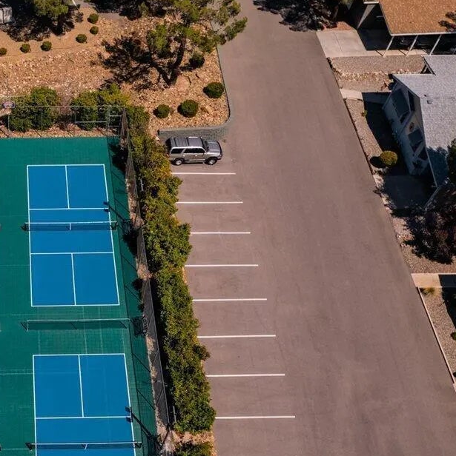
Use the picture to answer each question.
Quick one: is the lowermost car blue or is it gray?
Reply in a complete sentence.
The color of the lowermost car is gray.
